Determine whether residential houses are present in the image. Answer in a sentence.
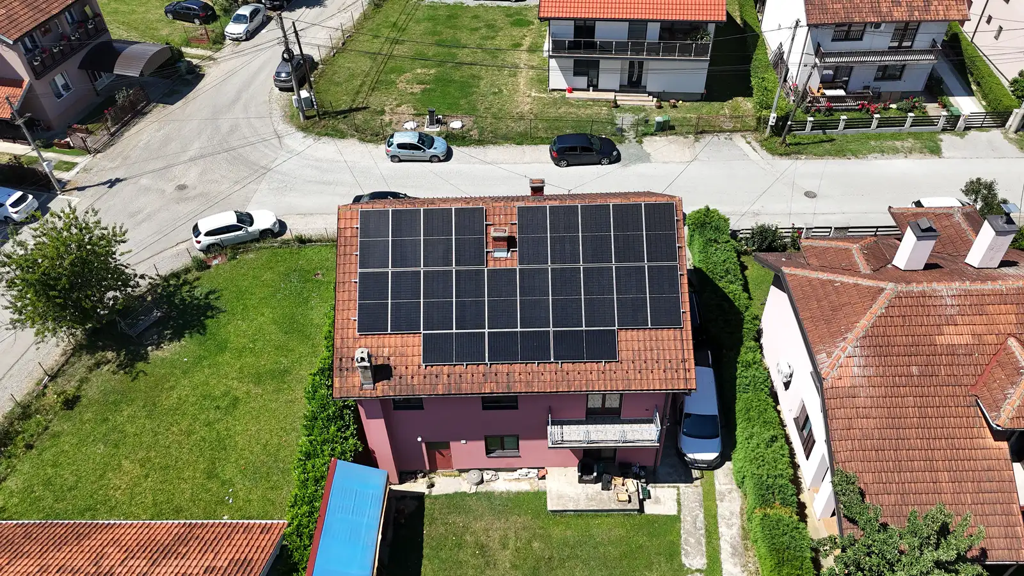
Yes, there's a residential house here.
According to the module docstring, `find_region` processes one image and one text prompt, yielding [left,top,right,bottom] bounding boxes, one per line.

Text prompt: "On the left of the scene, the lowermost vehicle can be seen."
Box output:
[192,202,278,249]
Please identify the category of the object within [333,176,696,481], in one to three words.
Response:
house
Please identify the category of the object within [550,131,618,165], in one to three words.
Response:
car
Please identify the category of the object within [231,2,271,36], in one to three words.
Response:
car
